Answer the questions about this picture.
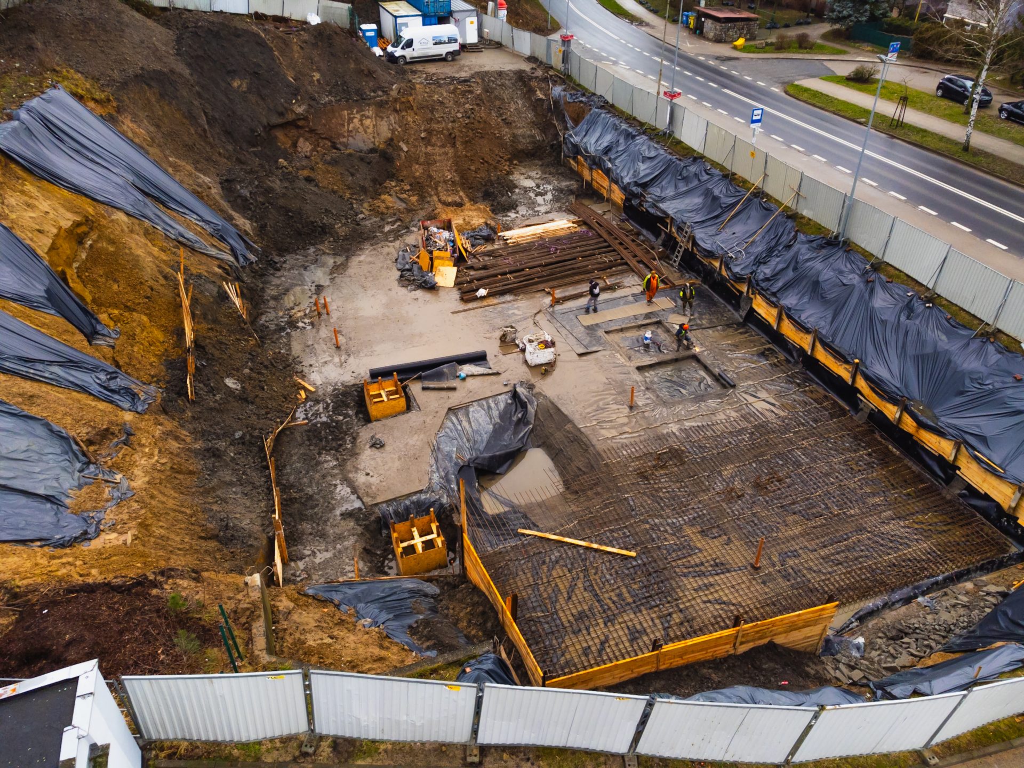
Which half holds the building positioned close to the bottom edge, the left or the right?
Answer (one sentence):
The building positioned close to the bottom edge is on the left side of the image.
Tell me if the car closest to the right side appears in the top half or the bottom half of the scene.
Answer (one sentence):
Seen from above, the car closest to the right side lies in the top half of the view.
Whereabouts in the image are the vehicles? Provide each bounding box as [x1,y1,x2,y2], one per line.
[384,20,463,65]
[939,71,998,106]
[1002,100,1024,126]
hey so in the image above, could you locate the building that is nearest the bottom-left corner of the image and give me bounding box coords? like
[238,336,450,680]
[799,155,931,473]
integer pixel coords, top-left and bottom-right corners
[0,656,142,768]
